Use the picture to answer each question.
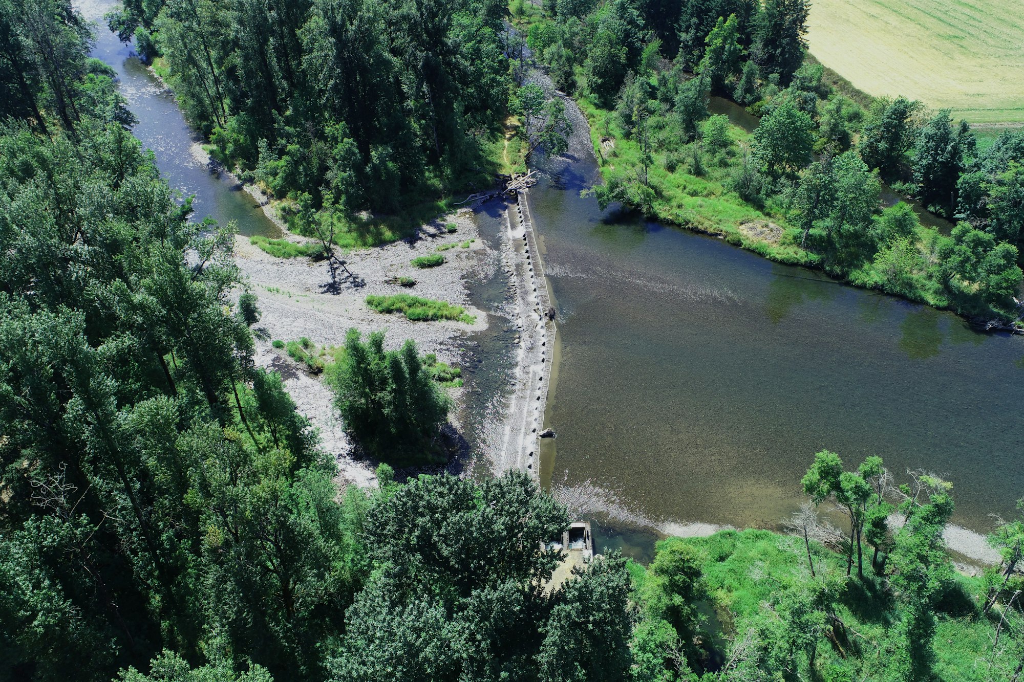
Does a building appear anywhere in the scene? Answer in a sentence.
No, there isn't any building down there.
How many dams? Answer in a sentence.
Altogether the scene contains 1 dam.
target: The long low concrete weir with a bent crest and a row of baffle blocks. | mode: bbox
[495,187,557,515]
